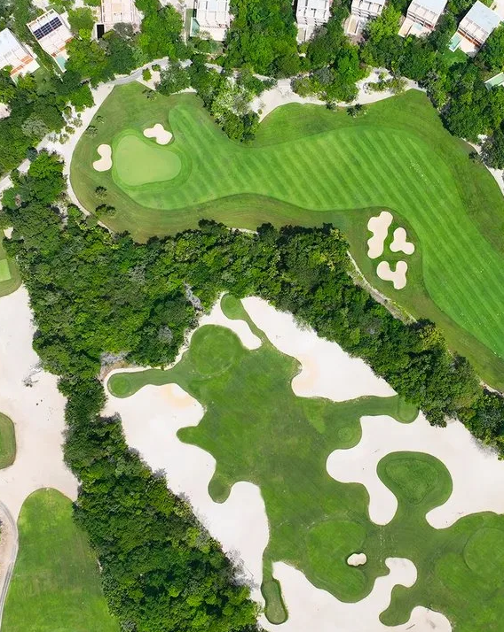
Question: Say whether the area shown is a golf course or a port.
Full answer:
What you see here is a golf course.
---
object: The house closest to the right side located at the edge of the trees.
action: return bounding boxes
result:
[456,1,501,55]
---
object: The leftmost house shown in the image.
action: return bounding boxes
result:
[0,26,41,80]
